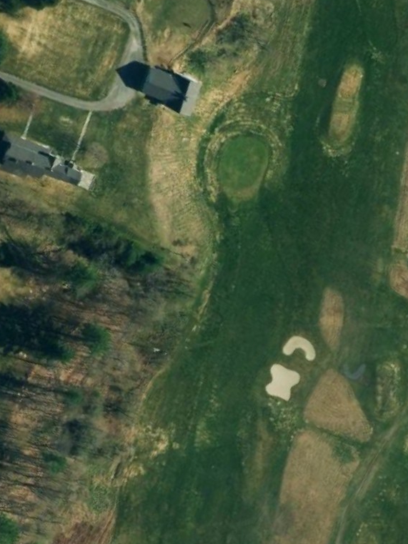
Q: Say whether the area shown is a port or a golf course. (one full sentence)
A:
This image shows a golf course.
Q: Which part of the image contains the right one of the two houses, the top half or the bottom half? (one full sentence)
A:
The top half of the photo is where the right one of the two houses is.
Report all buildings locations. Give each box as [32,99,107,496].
[3,134,95,190]
[141,65,205,118]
